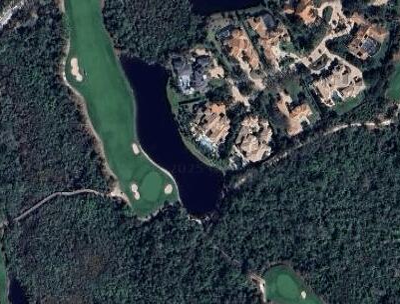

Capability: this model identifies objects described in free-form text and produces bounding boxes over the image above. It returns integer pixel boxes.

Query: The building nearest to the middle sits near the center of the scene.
[193,99,235,153]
